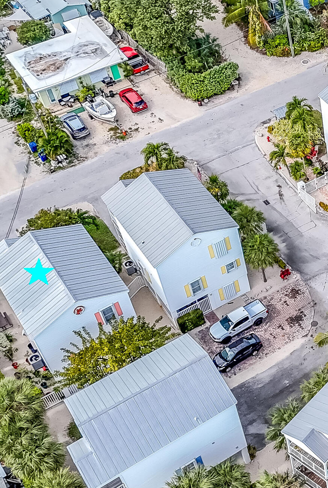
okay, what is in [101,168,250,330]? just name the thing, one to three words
house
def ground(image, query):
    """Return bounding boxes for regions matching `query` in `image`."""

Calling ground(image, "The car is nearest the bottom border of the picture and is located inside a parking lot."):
[207,326,269,369]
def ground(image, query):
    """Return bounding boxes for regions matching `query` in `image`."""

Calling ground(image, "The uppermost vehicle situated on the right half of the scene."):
[205,293,272,343]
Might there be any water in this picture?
No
